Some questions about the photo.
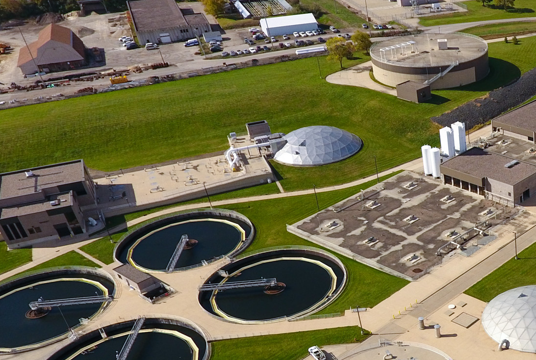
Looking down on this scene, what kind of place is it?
industrial area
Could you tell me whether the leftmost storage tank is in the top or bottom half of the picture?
bottom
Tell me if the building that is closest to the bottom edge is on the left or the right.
left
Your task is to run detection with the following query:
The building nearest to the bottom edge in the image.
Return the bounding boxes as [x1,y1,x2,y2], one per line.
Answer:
[113,263,174,304]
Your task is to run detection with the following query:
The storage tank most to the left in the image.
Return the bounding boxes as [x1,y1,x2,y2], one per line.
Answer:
[0,266,120,358]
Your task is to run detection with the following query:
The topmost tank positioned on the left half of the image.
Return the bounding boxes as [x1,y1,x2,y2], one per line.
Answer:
[112,208,253,276]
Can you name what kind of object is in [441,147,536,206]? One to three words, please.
building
